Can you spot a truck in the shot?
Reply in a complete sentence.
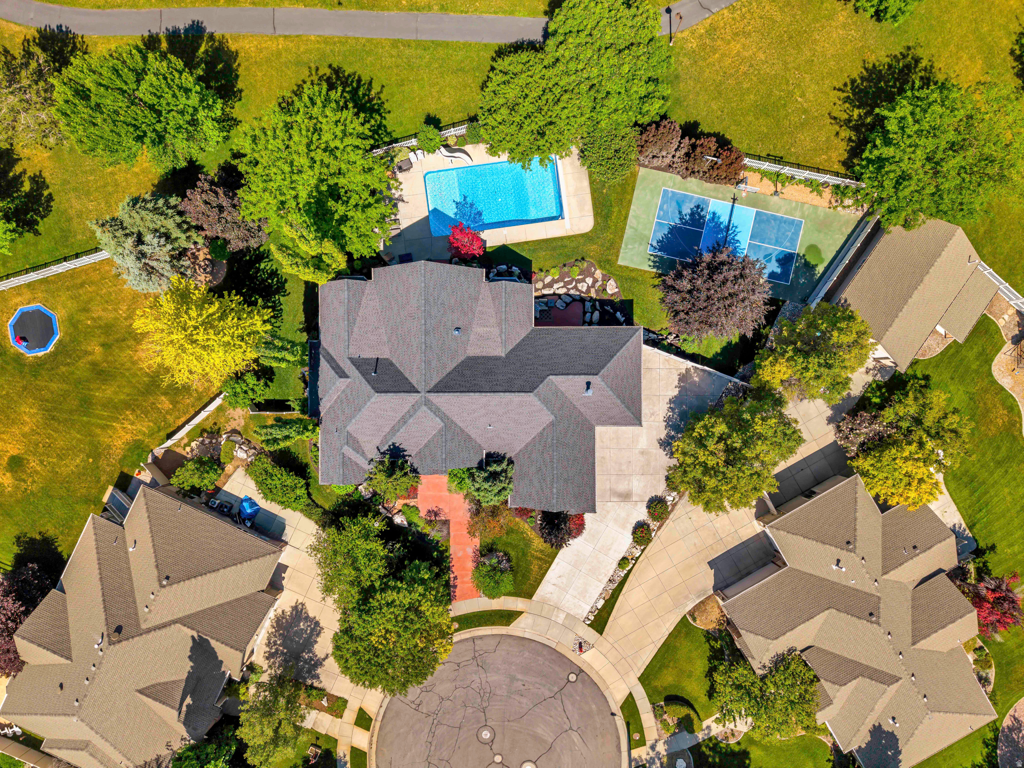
No, I find no truck anywhere in the image.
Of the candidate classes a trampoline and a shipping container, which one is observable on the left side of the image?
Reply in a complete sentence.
Visible on the left side of the image is a trampoline.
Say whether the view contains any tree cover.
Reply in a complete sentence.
Yes, the picture does contain tree cover.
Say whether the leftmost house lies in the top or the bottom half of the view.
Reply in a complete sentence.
The leftmost house sits in the bottom half of the picture.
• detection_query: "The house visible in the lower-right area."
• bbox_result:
[717,473,998,768]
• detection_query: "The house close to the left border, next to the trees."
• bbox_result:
[0,484,289,768]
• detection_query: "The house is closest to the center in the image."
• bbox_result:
[308,260,643,513]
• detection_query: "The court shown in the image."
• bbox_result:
[618,167,860,301]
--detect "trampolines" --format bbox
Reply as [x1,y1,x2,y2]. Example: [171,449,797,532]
[6,302,61,357]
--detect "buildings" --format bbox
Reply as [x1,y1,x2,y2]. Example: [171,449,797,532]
[308,260,643,513]
[0,484,289,768]
[828,208,1005,374]
[717,473,998,768]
